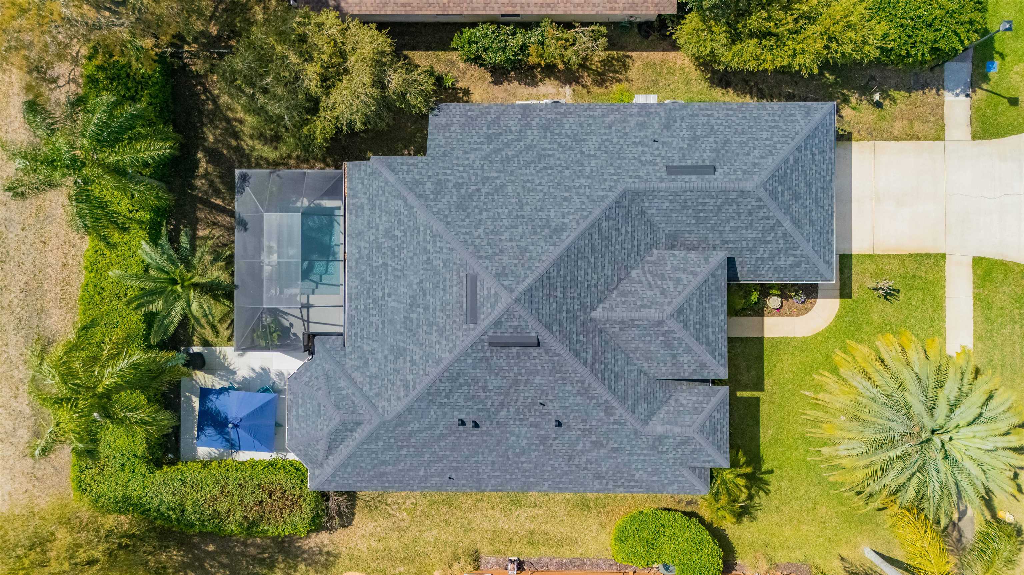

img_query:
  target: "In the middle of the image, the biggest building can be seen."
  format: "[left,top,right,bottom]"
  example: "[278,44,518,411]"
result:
[284,102,836,495]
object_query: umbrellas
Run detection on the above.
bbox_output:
[197,387,279,460]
